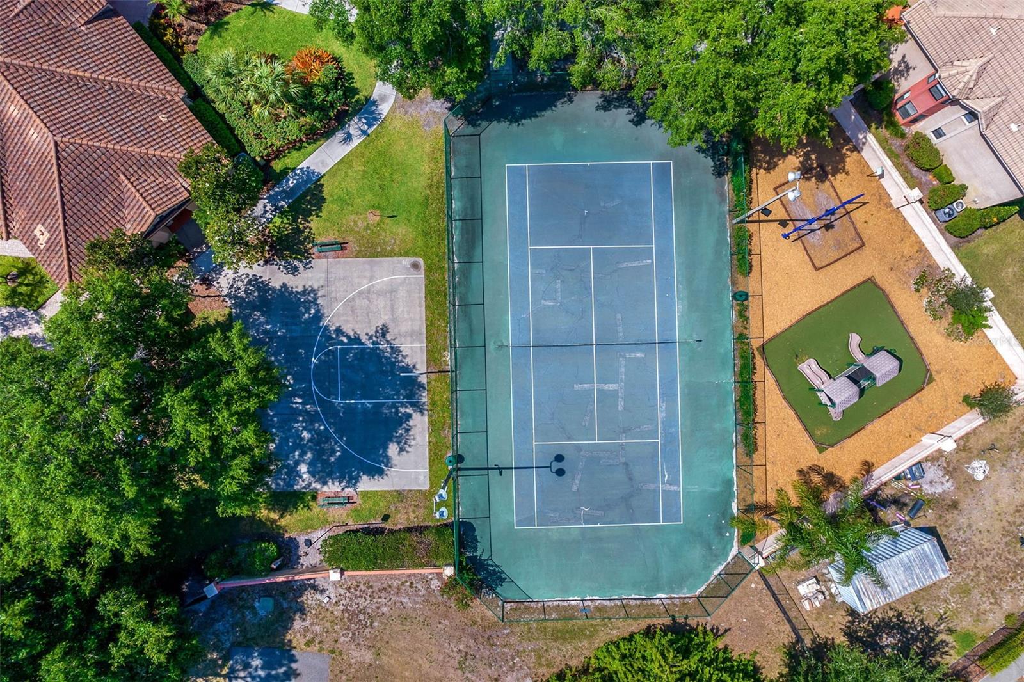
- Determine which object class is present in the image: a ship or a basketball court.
basketball court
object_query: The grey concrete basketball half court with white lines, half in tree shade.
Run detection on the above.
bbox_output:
[192,257,428,492]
